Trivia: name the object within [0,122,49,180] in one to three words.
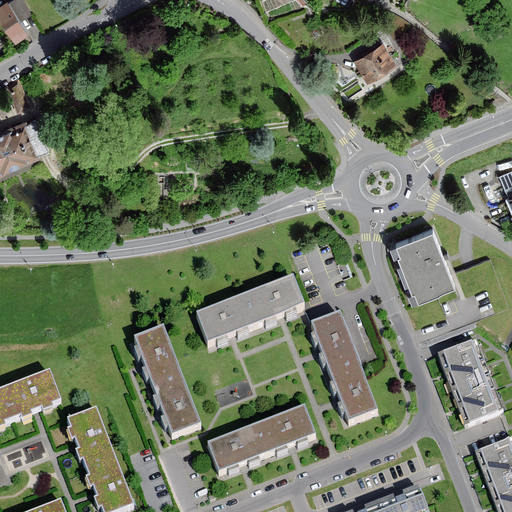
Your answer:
house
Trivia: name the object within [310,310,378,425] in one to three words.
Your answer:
building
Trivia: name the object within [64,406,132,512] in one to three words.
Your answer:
building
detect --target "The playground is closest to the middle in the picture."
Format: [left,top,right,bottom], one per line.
[214,379,253,408]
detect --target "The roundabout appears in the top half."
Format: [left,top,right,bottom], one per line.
[341,142,420,222]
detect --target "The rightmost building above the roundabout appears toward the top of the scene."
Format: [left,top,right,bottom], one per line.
[355,44,398,86]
